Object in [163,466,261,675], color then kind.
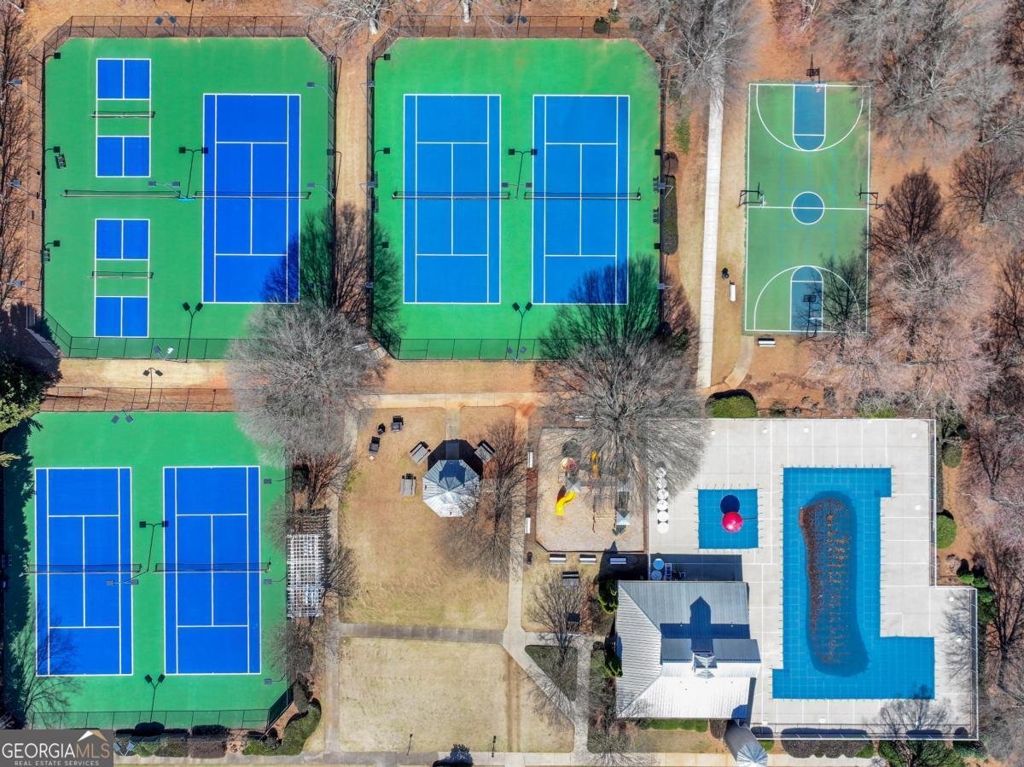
blue tennis court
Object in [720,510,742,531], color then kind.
red fountain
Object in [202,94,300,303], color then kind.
blue tennis court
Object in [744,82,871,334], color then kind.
green basketball court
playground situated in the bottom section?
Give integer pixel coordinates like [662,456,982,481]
[537,429,647,551]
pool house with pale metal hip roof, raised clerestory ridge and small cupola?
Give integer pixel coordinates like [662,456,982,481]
[616,580,764,720]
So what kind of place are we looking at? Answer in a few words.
sports ground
